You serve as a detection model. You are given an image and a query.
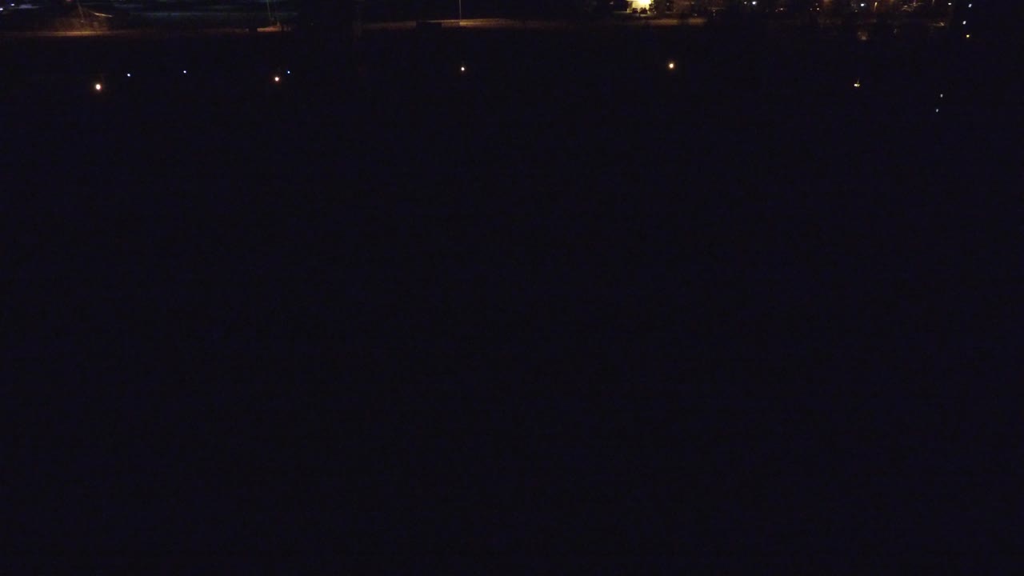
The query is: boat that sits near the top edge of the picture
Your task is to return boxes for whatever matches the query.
[929,4,977,63]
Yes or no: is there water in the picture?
Yes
